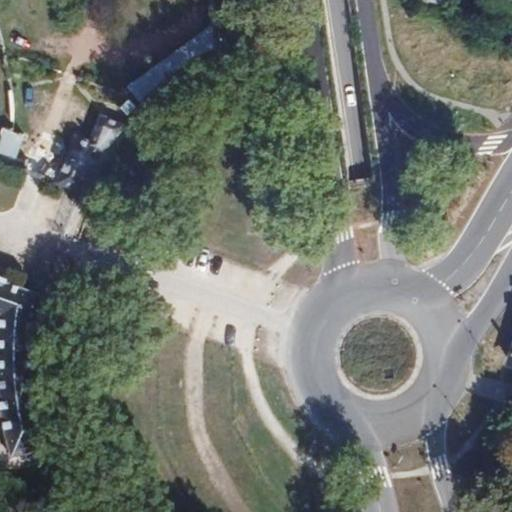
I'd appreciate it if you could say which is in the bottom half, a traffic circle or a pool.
traffic circle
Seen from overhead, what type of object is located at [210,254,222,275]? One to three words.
vehicle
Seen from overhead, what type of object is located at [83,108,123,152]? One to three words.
house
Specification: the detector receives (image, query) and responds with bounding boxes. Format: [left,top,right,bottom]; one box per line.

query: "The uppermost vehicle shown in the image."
[12,34,32,51]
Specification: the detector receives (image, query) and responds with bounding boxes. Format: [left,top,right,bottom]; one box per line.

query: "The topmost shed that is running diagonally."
[128,26,214,100]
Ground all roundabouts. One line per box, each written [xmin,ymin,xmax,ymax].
[291,258,468,452]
